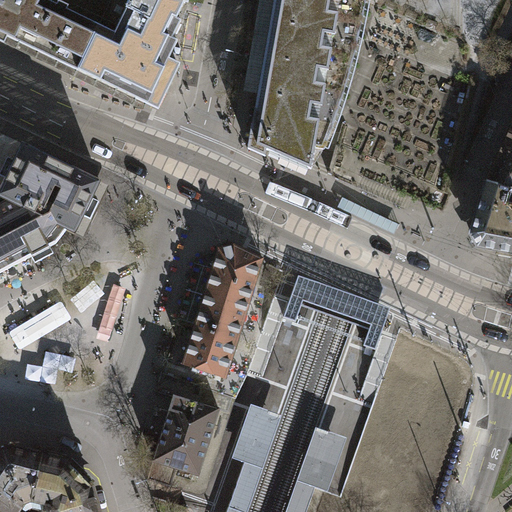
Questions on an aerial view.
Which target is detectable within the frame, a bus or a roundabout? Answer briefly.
bus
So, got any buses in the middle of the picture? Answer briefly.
Yes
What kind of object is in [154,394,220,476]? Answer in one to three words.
house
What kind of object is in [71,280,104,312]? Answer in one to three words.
tent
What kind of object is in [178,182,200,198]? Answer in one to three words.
car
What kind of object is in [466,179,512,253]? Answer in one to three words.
building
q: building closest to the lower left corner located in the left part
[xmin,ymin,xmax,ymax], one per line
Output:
[0,440,99,512]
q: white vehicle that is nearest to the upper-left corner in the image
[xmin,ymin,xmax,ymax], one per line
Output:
[90,142,113,158]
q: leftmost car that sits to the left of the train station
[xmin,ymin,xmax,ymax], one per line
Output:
[60,436,82,452]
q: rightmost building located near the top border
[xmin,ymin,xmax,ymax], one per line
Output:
[239,0,372,174]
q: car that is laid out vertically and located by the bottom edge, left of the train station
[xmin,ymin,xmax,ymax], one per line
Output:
[96,486,108,510]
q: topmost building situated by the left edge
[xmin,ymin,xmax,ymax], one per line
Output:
[0,0,190,115]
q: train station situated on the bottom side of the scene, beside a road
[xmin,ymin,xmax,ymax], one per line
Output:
[202,276,402,512]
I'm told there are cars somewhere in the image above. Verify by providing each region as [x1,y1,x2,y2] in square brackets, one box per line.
[96,486,108,510]
[126,160,150,177]
[178,182,200,198]
[484,327,508,342]
[408,254,432,270]
[90,142,113,158]
[60,436,82,452]
[370,237,394,254]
